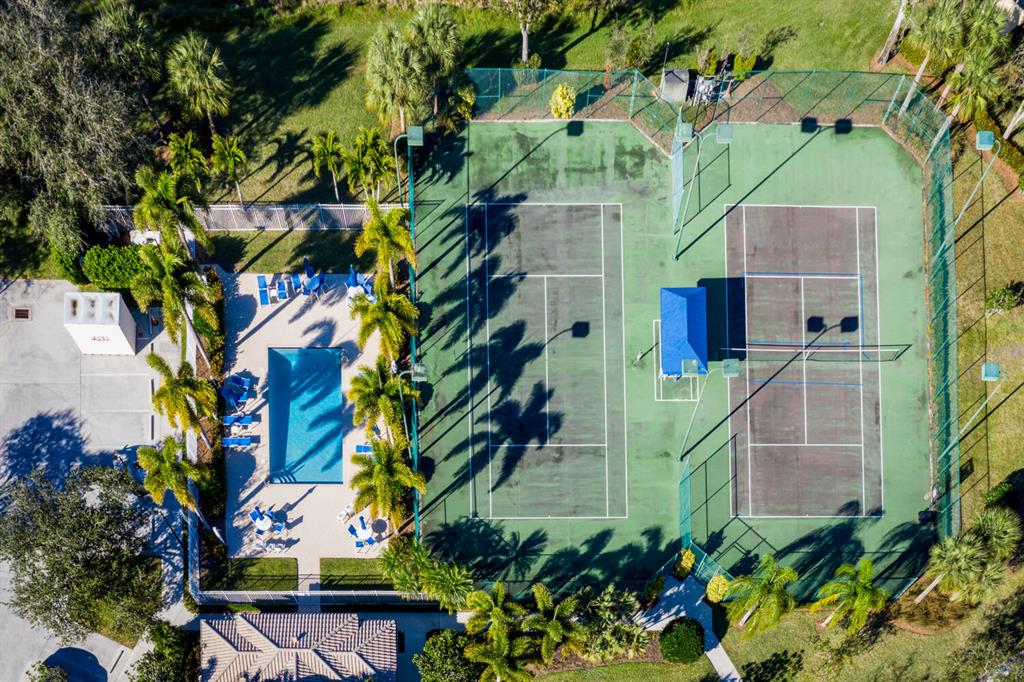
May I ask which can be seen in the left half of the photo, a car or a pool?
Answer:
pool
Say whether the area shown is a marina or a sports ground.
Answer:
sports ground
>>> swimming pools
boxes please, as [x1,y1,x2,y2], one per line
[261,341,353,487]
